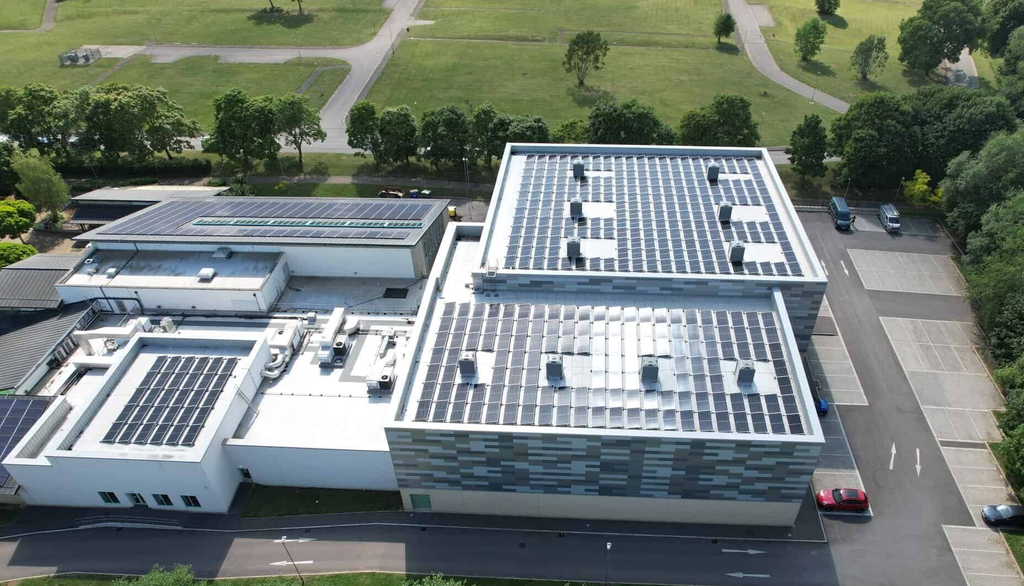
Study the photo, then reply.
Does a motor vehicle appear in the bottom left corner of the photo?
No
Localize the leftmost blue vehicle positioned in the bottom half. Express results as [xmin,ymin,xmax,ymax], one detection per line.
[814,398,832,415]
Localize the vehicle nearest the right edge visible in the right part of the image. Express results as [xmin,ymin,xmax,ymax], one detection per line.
[987,503,1024,527]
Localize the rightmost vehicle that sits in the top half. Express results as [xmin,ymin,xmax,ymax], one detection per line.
[876,207,903,235]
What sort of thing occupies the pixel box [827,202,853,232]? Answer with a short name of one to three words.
vehicle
